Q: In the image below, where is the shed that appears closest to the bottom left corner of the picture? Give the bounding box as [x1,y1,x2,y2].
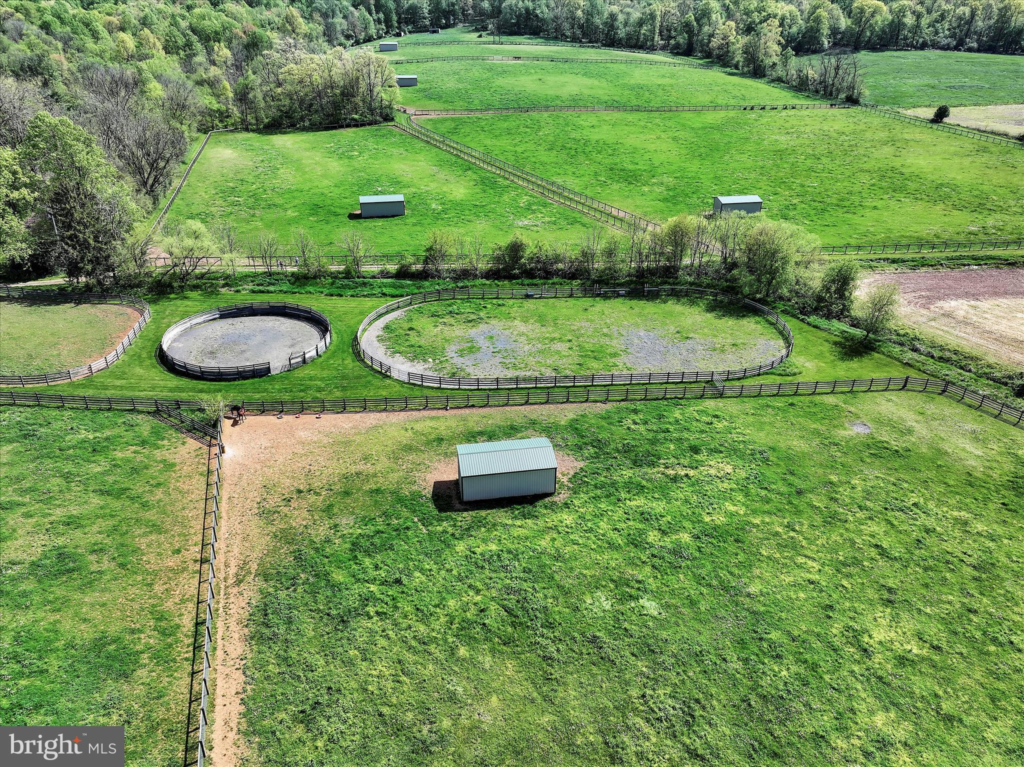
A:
[456,441,558,502]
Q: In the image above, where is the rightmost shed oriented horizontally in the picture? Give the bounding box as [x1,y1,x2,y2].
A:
[709,190,765,216]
